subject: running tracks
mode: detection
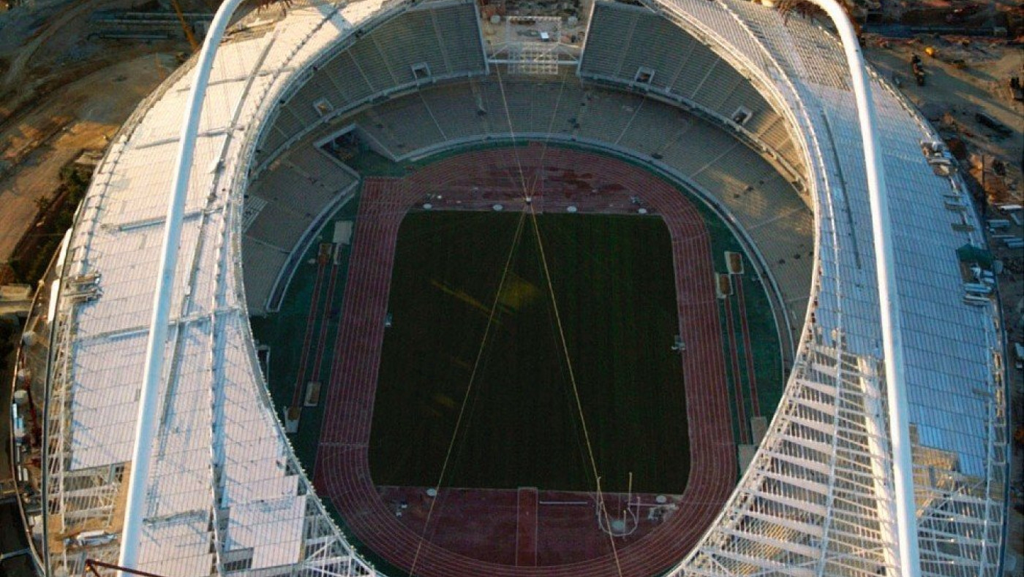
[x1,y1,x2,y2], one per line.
[313,146,736,577]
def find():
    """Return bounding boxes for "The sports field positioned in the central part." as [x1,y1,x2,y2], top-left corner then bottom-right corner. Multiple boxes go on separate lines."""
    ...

[368,210,690,490]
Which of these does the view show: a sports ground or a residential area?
sports ground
